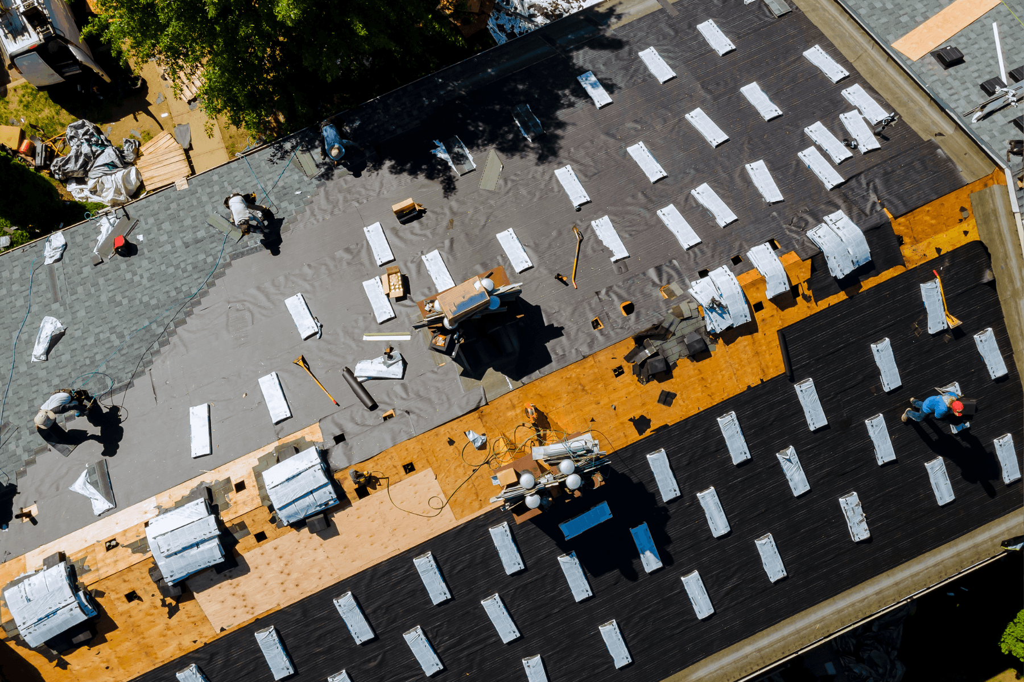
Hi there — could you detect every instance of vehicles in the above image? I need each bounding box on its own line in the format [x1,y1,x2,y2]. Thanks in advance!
[0,0,112,102]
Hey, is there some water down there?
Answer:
No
